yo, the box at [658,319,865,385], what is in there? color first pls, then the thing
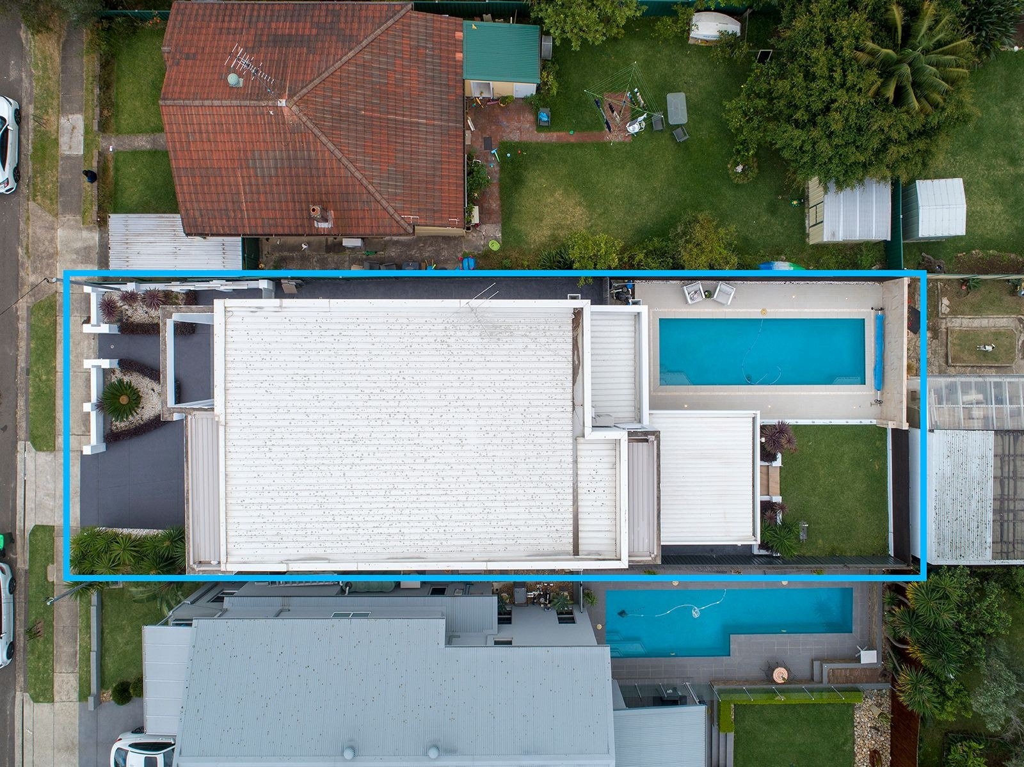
blue swimming pool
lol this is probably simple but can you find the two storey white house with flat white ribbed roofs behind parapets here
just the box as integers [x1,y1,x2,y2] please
[215,289,649,571]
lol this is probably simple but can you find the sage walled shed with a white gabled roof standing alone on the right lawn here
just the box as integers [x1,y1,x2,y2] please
[904,179,971,243]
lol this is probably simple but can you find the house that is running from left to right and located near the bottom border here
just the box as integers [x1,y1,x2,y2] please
[169,578,618,767]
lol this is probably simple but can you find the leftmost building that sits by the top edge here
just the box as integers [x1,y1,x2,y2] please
[158,0,468,239]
